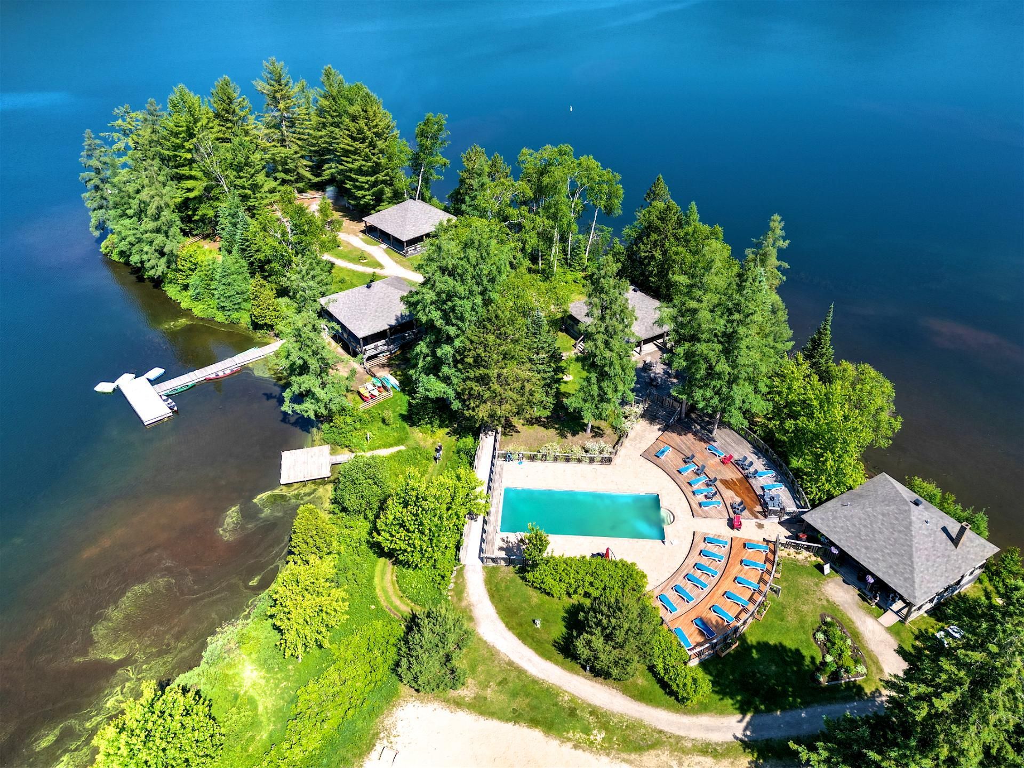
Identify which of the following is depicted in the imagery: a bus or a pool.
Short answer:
pool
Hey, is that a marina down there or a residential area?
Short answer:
marina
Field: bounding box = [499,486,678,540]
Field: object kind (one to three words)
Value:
swimming pool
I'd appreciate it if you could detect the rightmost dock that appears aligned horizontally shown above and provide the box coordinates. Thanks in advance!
[279,446,353,486]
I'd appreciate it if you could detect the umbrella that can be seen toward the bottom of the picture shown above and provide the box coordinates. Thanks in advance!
[605,541,626,565]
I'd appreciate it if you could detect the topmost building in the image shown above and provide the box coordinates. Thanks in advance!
[362,199,451,258]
